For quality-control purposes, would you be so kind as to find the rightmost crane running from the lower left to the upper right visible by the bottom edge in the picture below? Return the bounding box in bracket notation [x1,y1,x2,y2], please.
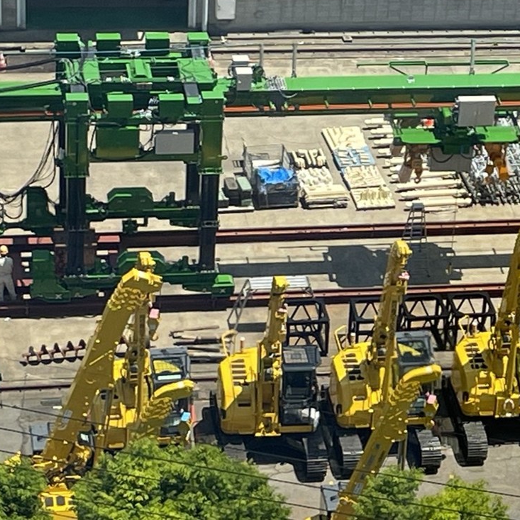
[313,364,452,520]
